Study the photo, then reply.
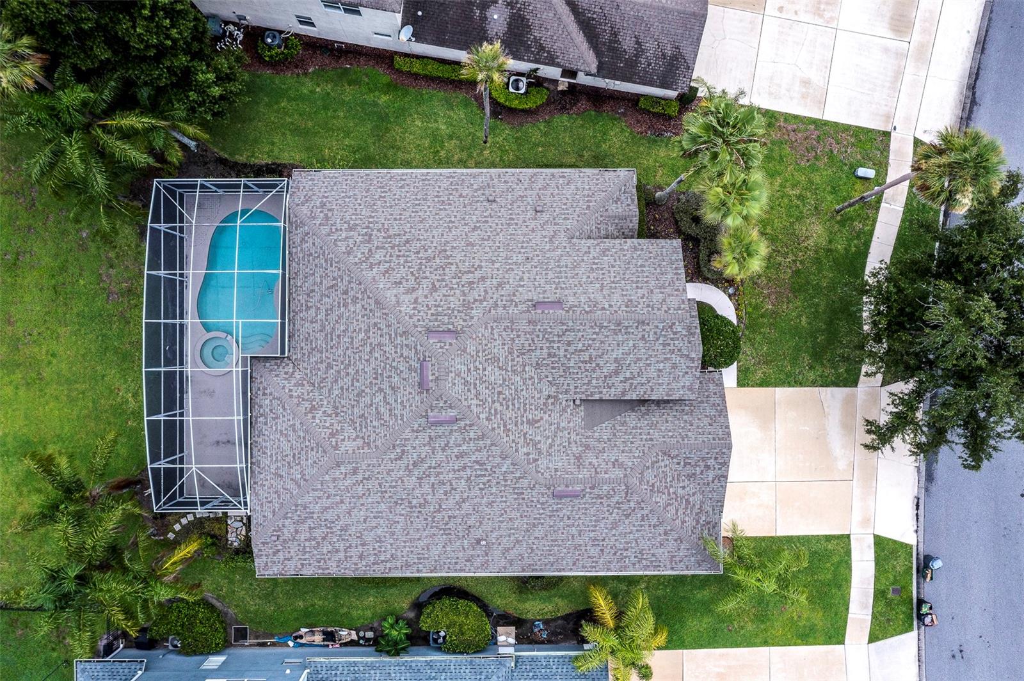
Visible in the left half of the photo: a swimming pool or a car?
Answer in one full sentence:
You can see a swimming pool in the left half of the photo.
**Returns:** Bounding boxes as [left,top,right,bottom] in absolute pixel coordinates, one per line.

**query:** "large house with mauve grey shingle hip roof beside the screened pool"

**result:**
[249,167,732,578]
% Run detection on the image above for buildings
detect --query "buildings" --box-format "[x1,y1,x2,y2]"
[73,638,609,681]
[249,167,732,578]
[199,0,709,99]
